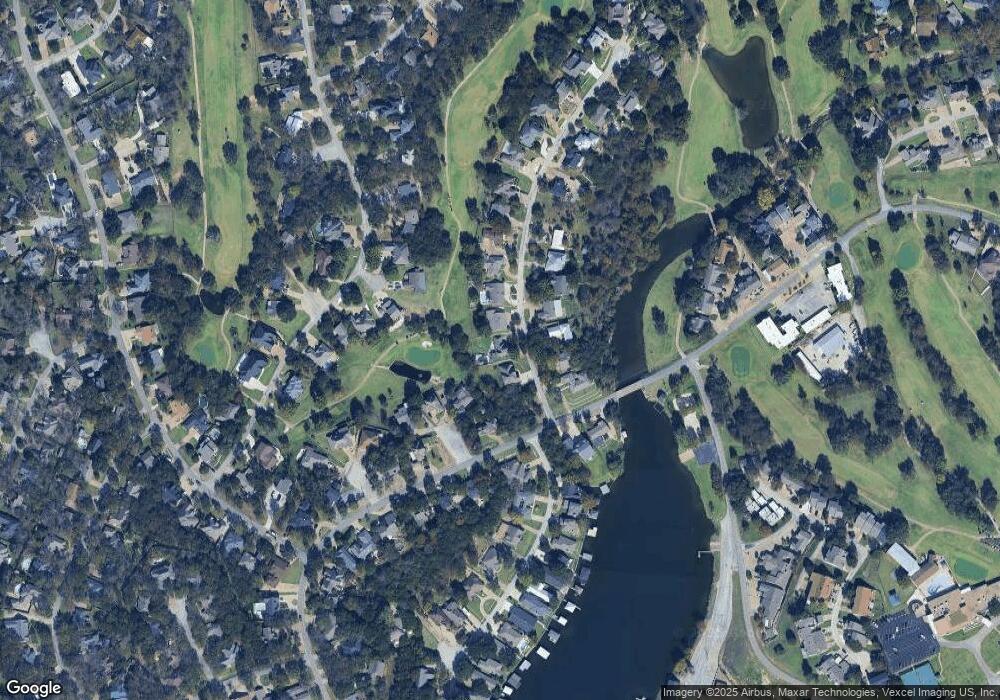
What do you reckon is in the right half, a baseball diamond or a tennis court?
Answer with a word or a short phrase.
tennis court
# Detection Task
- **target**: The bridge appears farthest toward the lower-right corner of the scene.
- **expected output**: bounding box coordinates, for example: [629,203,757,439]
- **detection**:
[610,369,657,399]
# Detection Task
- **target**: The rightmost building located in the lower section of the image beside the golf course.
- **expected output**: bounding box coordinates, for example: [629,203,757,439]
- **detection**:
[930,572,1000,638]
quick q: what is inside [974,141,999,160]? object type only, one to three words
house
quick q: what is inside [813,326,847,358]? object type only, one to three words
building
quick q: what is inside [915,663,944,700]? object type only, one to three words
tennis court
